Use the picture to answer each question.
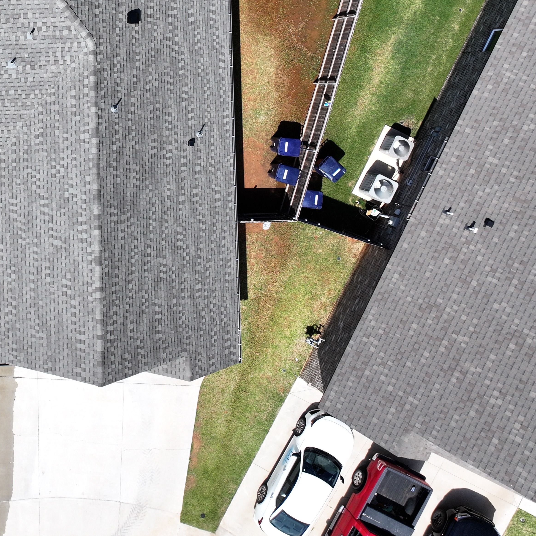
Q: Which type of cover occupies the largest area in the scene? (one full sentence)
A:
The bulk of the photo consists of buildings.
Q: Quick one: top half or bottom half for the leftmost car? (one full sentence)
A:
You can find the leftmost car in the bottom half.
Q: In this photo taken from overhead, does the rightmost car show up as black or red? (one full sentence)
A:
In this view, the rightmost car is black.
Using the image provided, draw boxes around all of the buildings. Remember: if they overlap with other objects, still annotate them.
[299,0,536,508]
[0,0,242,381]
